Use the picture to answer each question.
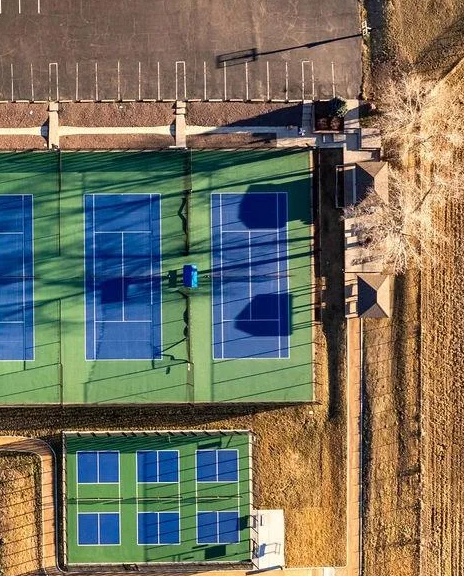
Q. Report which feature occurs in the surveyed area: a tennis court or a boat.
tennis court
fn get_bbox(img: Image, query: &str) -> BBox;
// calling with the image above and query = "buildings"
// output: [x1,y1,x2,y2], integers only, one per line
[328,161,388,208]
[353,274,390,318]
